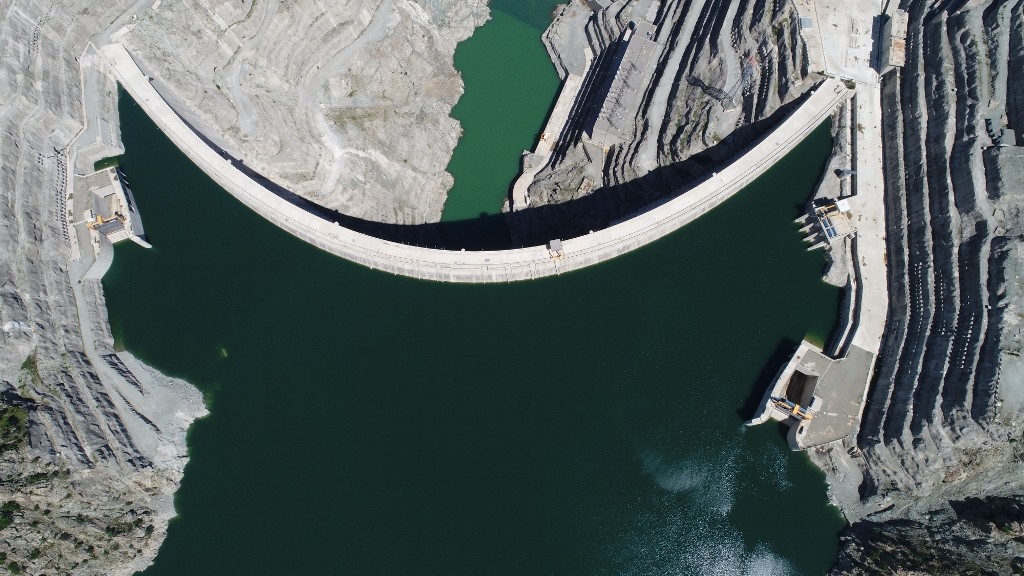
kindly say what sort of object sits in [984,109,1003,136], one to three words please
shed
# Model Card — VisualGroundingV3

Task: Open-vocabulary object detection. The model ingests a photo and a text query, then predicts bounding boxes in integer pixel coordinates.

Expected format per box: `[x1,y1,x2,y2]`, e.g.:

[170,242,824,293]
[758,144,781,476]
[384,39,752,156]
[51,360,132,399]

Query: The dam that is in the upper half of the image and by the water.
[99,41,848,283]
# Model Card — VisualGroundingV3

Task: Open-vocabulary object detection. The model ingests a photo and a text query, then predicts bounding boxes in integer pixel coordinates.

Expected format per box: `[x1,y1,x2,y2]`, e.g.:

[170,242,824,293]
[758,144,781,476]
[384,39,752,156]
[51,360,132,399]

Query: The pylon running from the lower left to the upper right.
[716,70,762,114]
